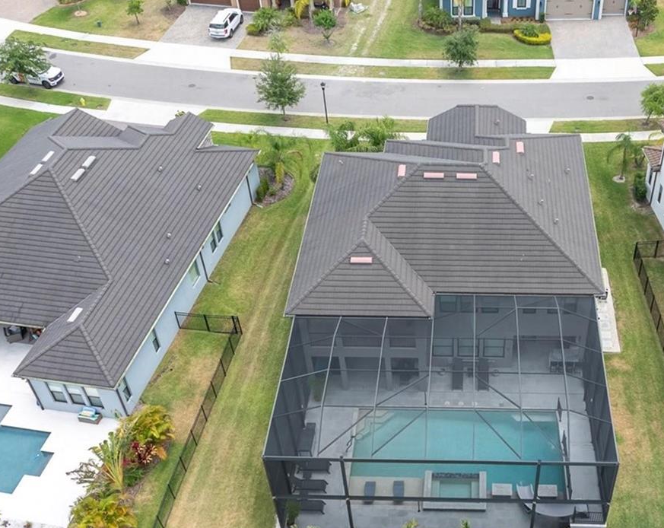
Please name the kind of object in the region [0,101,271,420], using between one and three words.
house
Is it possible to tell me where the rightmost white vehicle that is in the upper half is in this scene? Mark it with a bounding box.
[209,10,247,36]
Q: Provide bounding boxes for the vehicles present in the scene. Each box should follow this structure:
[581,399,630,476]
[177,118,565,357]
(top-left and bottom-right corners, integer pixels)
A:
[0,63,68,90]
[209,10,247,36]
